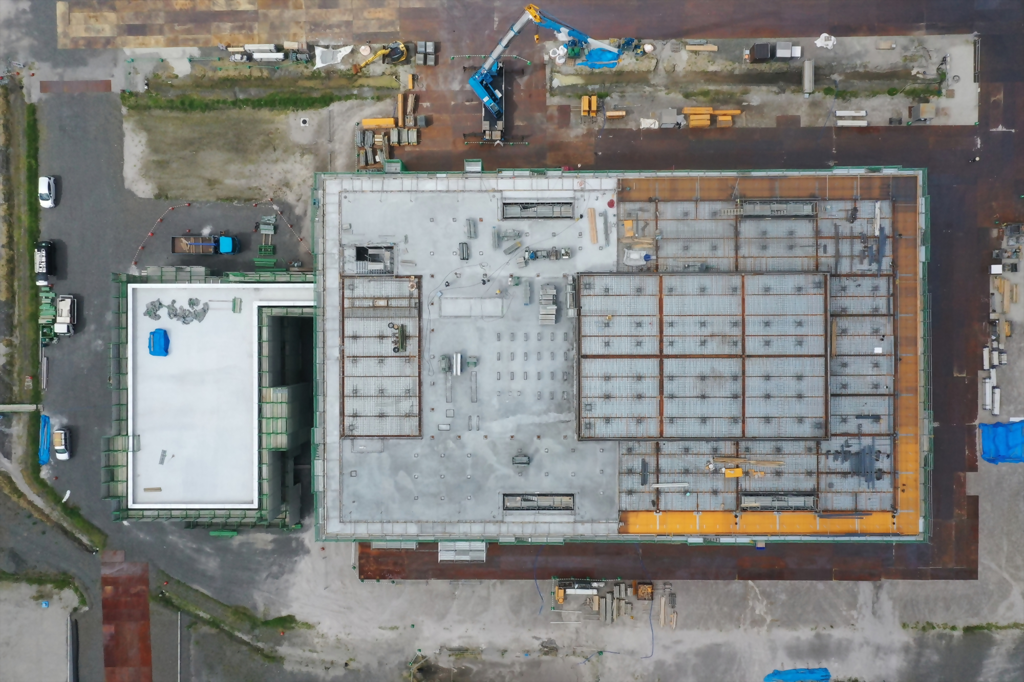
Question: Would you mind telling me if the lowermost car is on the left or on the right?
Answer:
left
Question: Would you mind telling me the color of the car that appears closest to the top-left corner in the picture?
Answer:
white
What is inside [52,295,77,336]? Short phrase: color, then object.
white truck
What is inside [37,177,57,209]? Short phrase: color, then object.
white car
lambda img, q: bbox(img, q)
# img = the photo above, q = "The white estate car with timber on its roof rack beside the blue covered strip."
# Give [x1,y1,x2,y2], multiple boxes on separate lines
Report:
[55,427,75,459]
